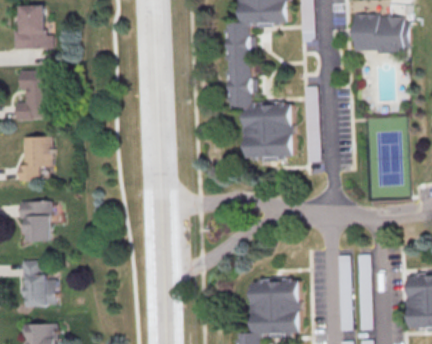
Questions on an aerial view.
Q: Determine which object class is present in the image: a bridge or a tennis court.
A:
tennis court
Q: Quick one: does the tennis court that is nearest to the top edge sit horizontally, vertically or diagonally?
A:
vertically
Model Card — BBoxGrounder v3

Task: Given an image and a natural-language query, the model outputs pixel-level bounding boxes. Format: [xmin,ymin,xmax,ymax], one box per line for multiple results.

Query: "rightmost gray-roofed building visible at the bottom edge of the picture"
[400,272,432,331]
